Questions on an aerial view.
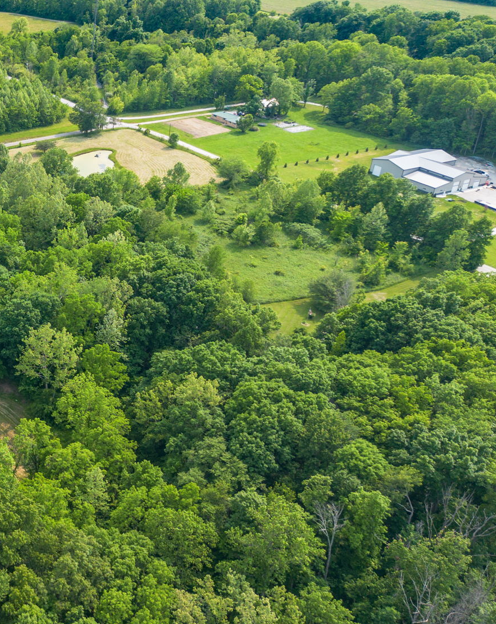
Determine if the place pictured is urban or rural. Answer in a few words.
rural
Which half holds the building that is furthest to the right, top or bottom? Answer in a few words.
top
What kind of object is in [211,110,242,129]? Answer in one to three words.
house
